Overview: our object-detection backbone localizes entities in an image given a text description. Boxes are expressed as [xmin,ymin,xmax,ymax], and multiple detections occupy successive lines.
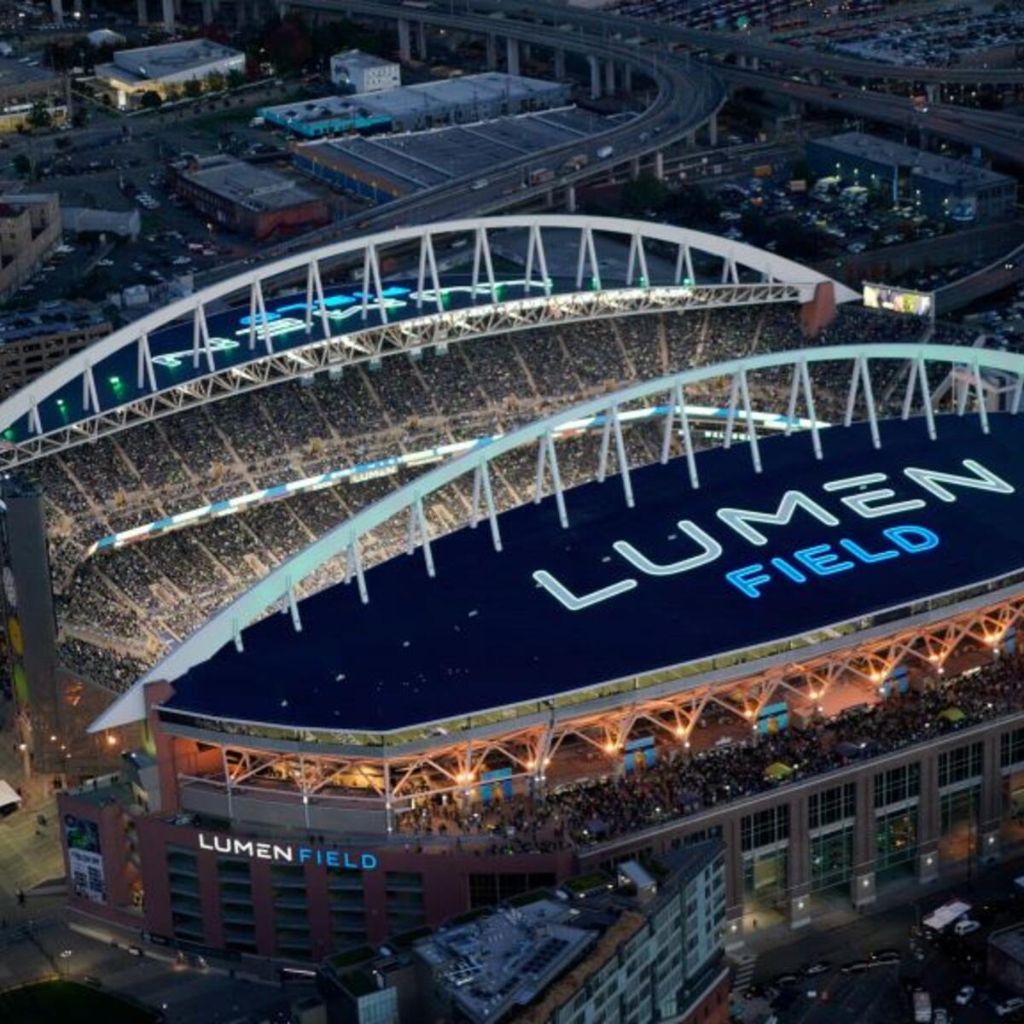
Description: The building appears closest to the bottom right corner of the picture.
[987,914,1024,987]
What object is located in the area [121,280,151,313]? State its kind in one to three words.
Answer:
house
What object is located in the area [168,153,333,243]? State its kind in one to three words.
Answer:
building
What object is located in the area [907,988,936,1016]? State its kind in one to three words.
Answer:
van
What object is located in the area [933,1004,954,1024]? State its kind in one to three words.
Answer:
car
